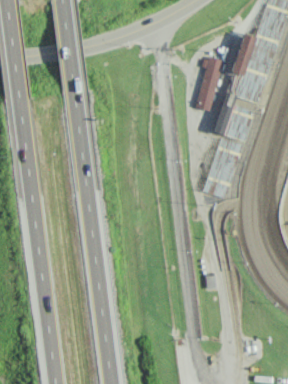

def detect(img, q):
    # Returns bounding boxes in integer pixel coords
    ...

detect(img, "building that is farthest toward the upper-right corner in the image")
[231,34,254,76]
